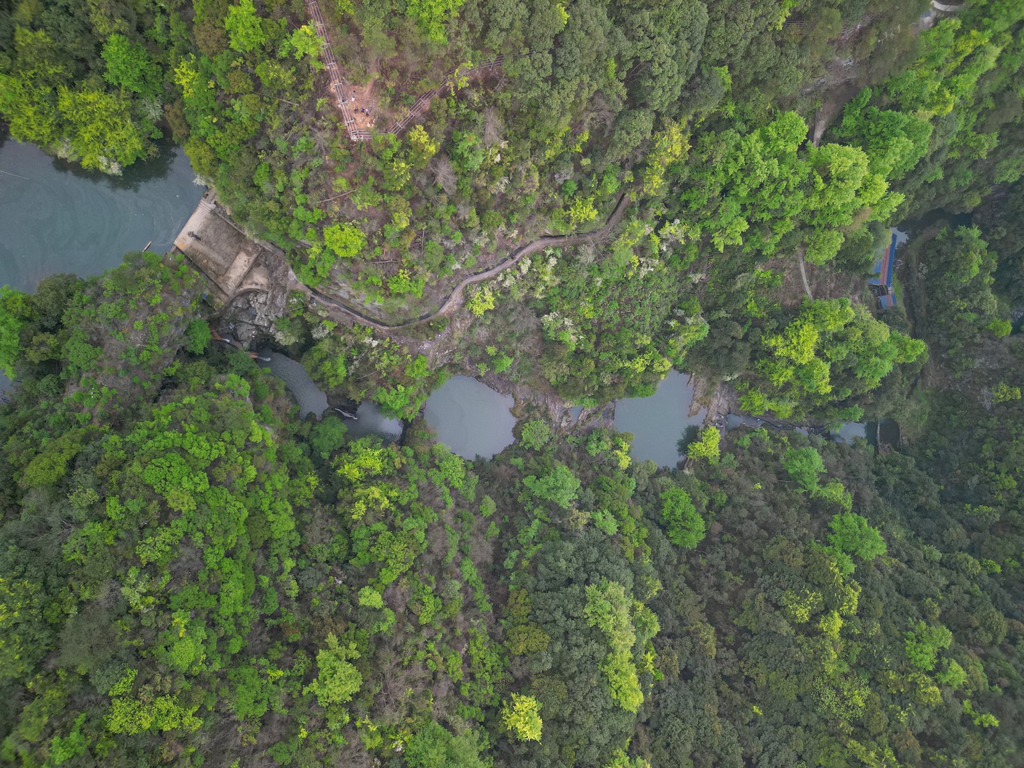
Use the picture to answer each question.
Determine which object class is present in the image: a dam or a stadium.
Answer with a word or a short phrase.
dam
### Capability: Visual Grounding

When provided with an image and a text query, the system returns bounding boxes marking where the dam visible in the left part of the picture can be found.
[173,196,267,299]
